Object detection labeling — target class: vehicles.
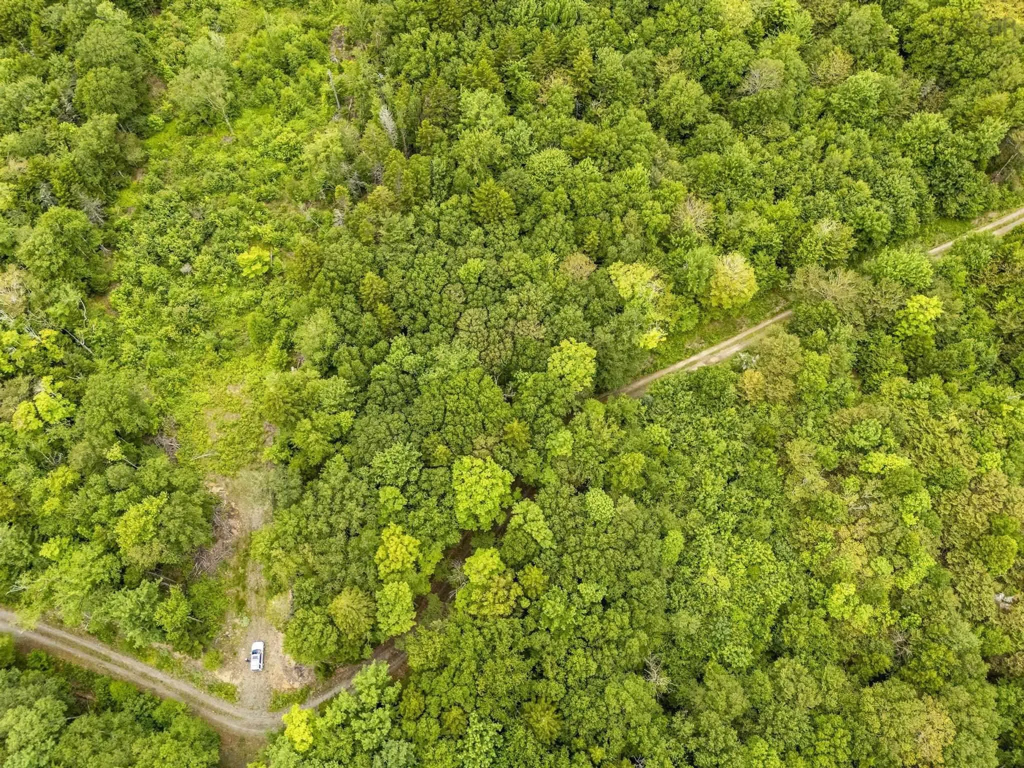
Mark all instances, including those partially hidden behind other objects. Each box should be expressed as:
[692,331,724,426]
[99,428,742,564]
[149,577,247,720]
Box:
[249,640,267,673]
